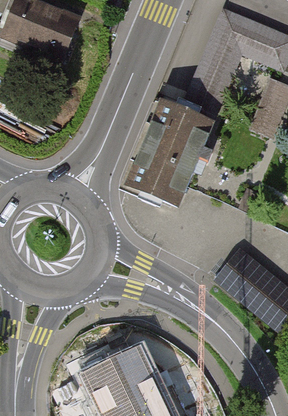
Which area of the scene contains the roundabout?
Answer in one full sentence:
The roundabout sits in the left section of the image.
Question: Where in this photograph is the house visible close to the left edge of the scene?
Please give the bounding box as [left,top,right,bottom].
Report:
[0,0,82,65]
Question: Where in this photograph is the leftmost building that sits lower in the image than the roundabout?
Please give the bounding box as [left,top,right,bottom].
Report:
[82,340,181,416]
